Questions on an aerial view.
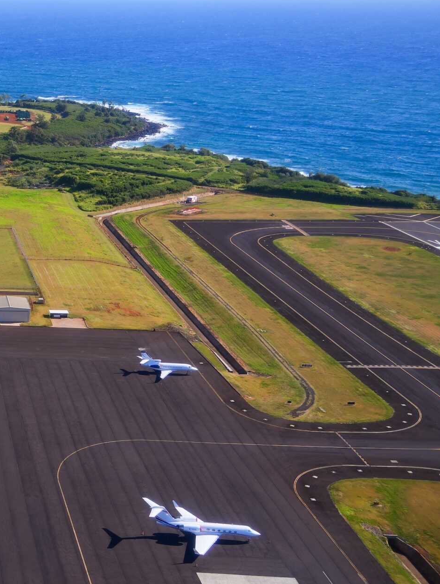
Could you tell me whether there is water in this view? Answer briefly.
Yes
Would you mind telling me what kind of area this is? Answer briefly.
airport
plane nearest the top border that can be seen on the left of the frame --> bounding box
[142,352,198,377]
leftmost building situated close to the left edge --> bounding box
[0,298,31,322]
